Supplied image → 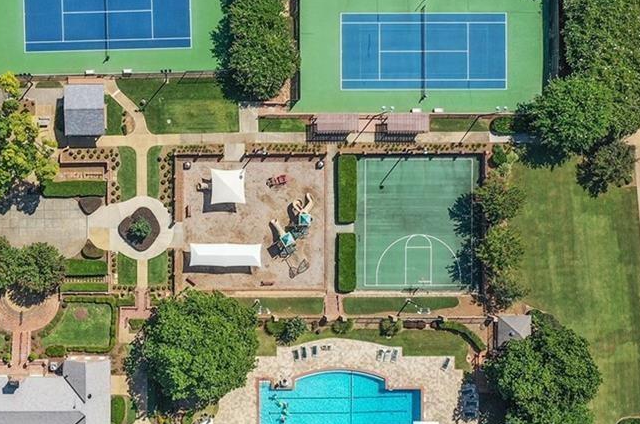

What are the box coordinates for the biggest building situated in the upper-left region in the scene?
[62,84,104,136]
